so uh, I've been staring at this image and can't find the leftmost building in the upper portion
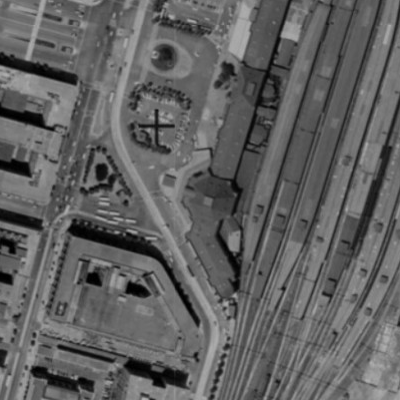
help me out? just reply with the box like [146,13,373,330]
[0,66,78,205]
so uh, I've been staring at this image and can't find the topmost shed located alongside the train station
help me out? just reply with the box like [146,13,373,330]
[282,5,308,42]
